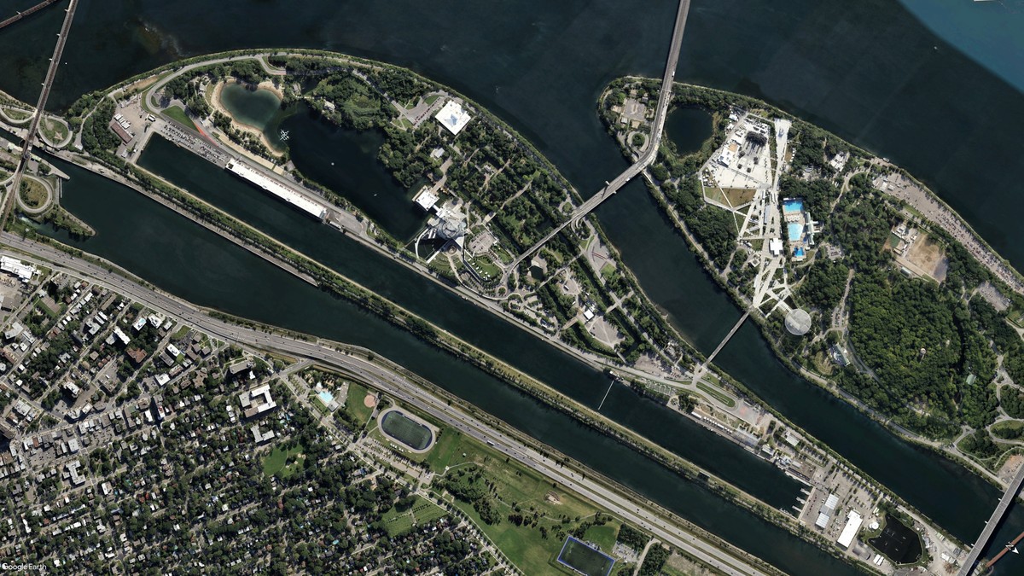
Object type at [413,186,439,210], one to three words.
building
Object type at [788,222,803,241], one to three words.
swimming pool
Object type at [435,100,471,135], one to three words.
building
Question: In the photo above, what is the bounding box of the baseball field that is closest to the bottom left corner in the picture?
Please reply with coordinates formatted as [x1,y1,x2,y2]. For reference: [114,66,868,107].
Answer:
[347,382,378,421]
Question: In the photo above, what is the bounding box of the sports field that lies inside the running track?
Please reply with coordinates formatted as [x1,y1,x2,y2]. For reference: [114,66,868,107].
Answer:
[383,410,430,449]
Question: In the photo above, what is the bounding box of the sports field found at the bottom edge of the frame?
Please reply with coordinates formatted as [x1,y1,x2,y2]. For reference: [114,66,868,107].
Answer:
[557,535,615,576]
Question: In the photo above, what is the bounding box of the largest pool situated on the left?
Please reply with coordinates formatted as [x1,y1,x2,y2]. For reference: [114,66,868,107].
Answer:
[317,389,334,405]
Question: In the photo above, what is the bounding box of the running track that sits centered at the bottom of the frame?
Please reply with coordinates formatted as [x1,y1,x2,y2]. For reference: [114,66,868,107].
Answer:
[377,405,447,455]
